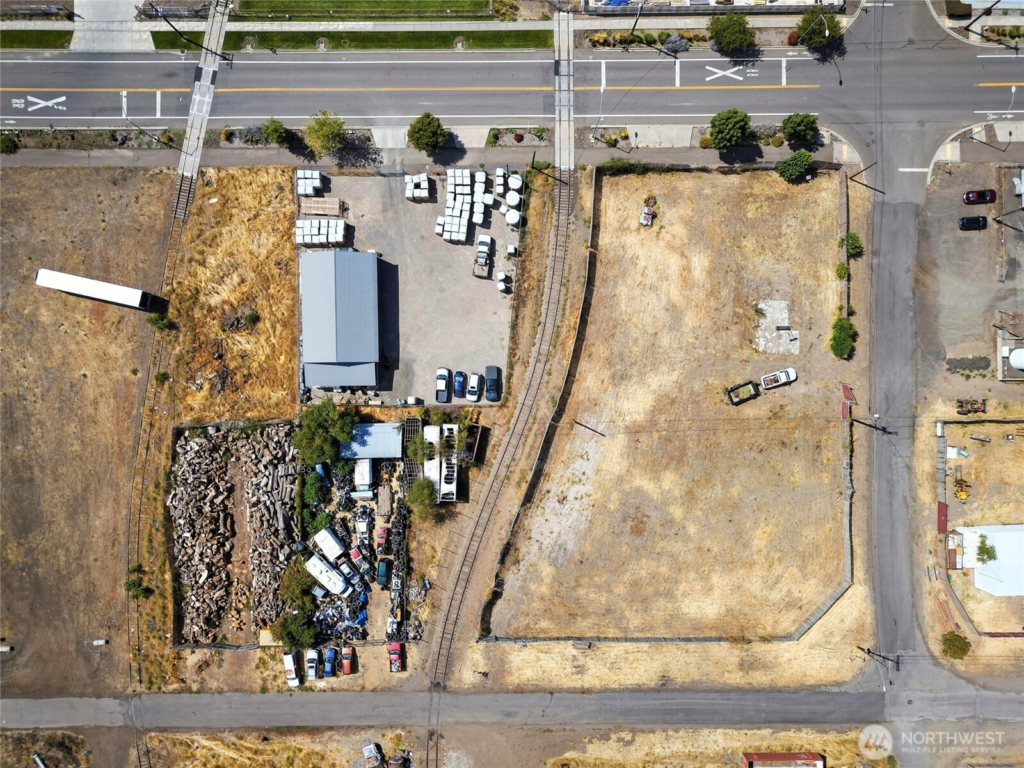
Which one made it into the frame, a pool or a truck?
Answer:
truck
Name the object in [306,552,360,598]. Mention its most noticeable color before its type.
white camper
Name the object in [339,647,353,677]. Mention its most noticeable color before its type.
red car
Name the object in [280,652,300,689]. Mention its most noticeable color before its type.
white vehicle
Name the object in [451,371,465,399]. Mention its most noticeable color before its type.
blue car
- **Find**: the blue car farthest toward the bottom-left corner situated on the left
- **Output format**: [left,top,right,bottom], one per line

[321,649,336,680]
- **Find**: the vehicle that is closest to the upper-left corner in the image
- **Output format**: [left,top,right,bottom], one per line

[35,268,164,312]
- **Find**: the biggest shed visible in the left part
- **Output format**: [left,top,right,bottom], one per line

[300,248,381,362]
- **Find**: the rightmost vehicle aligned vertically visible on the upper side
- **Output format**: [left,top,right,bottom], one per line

[640,191,657,222]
